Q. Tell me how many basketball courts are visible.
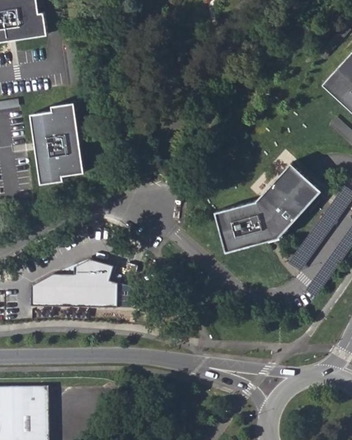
none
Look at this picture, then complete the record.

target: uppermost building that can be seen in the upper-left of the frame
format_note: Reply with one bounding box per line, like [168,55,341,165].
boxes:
[0,0,49,44]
